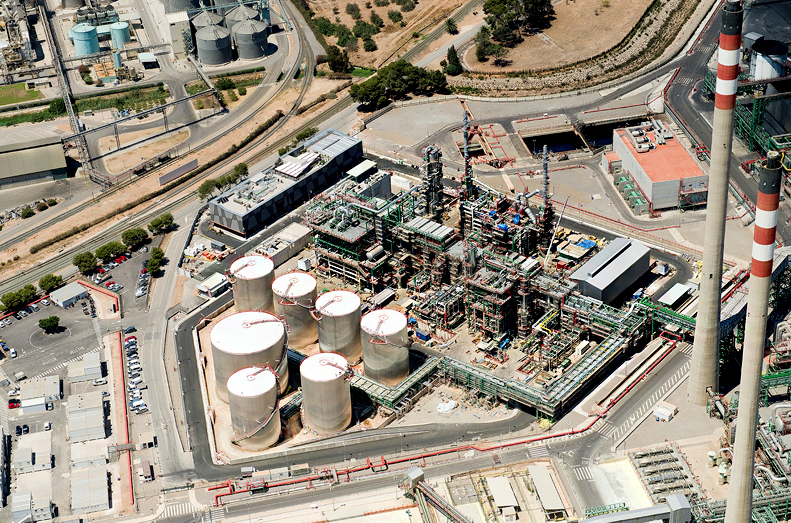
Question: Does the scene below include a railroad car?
Yes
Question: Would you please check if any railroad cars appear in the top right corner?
No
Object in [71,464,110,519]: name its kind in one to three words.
building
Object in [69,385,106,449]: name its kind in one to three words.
building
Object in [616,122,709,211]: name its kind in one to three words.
house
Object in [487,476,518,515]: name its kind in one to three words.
shed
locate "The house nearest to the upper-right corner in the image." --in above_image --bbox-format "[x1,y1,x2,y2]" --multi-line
[740,32,759,59]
